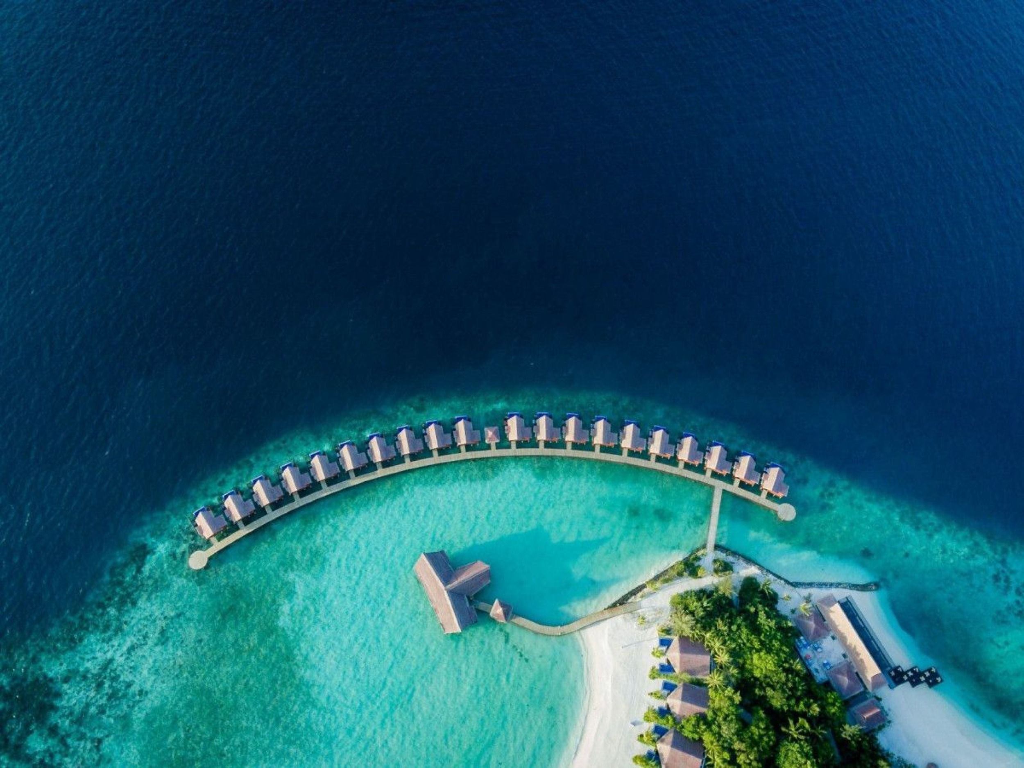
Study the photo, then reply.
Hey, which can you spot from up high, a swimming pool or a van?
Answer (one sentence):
The image shows a swimming pool.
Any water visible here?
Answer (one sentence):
Yes, water shows up in the scene.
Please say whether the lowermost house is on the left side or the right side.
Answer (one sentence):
You can find the lowermost house on the right side of the picture.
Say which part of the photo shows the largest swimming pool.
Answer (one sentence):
The largest swimming pool appears toward the bottom right of the photo.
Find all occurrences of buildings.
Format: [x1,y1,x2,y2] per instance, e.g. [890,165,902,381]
[666,636,714,676]
[646,427,674,457]
[618,420,645,451]
[730,450,759,483]
[366,432,396,462]
[589,417,617,446]
[503,413,531,442]
[394,425,425,454]
[657,728,705,768]
[308,449,342,480]
[196,505,233,537]
[280,461,314,492]
[758,462,787,495]
[485,427,500,443]
[252,473,287,505]
[702,442,730,473]
[667,682,710,722]
[531,413,560,442]
[451,416,481,445]
[560,414,588,443]
[225,488,260,520]
[490,597,512,622]
[826,661,864,699]
[817,594,888,692]
[674,432,702,464]
[414,549,491,633]
[854,698,887,731]
[337,440,369,470]
[422,419,452,449]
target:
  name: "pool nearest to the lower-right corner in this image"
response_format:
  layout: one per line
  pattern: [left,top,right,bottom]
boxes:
[835,593,895,689]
